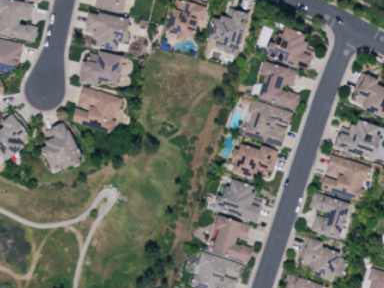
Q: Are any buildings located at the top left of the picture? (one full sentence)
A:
Yes, the scene does show a building at the top left of the picture.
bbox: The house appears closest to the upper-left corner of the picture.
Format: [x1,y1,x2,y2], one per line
[0,0,38,40]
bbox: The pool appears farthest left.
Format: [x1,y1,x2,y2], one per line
[174,40,196,52]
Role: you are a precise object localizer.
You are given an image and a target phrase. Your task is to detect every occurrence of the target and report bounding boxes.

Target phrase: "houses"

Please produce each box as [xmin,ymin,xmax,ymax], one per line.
[311,192,355,238]
[0,114,30,158]
[42,122,82,172]
[322,155,372,200]
[355,72,384,115]
[72,86,123,129]
[194,252,244,288]
[334,120,384,161]
[300,237,348,282]
[284,274,325,288]
[80,52,122,86]
[259,61,300,110]
[96,0,126,12]
[213,214,254,262]
[216,179,263,221]
[86,11,130,50]
[0,38,23,72]
[209,7,250,51]
[268,28,314,68]
[166,0,209,39]
[233,142,278,177]
[242,100,294,146]
[0,0,38,40]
